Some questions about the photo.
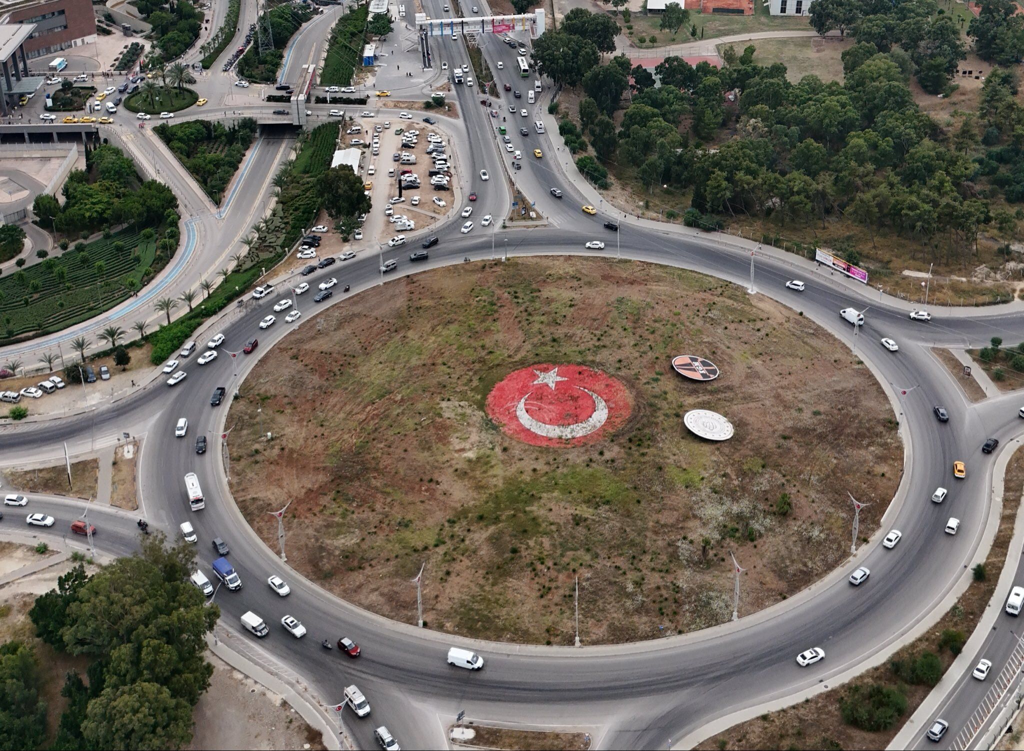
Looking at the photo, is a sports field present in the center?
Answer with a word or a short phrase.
No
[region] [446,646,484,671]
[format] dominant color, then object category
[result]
white vehicle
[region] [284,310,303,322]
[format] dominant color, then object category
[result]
white vehicle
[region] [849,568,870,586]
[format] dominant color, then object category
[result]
white car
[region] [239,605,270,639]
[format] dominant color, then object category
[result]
white truck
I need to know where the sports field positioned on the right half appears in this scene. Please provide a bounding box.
[720,38,846,81]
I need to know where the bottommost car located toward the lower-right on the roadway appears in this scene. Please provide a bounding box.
[926,717,949,744]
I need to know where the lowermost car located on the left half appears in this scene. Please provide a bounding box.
[375,726,398,751]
